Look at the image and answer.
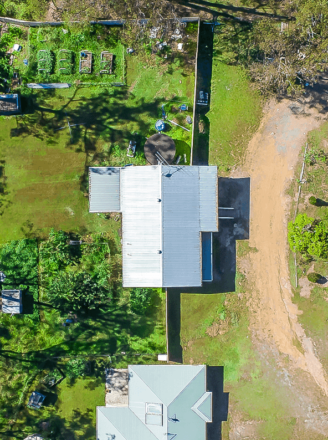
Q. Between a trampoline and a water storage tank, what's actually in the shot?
water storage tank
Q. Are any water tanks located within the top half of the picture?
Yes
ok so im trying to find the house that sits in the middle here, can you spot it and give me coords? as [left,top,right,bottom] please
[87,159,228,287]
